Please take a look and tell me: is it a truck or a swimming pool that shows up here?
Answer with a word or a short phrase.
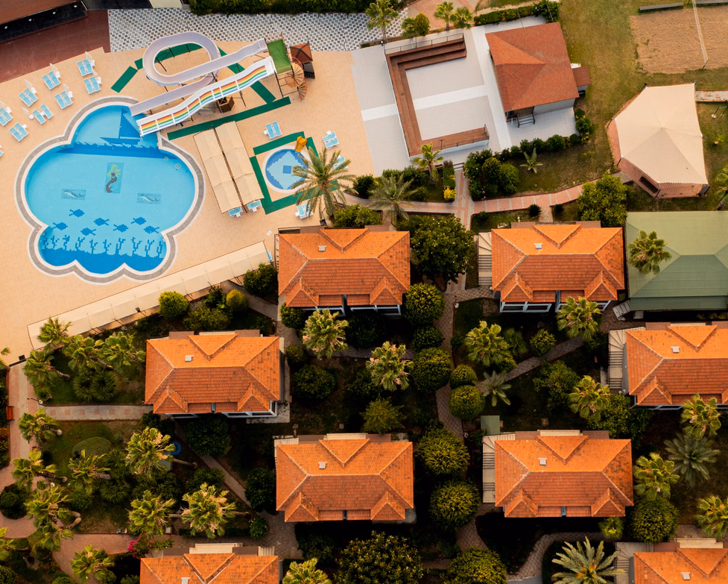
swimming pool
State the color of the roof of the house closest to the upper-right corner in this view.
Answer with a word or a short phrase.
orange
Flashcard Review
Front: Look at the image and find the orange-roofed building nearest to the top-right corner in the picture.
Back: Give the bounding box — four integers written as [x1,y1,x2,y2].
[486,22,591,140]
